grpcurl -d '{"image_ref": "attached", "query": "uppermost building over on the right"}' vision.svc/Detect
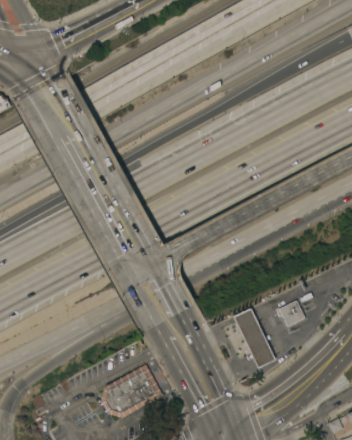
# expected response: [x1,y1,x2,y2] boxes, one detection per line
[276,300,306,326]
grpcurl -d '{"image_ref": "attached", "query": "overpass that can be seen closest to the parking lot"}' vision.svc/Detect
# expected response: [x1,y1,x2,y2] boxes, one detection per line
[9,69,209,334]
